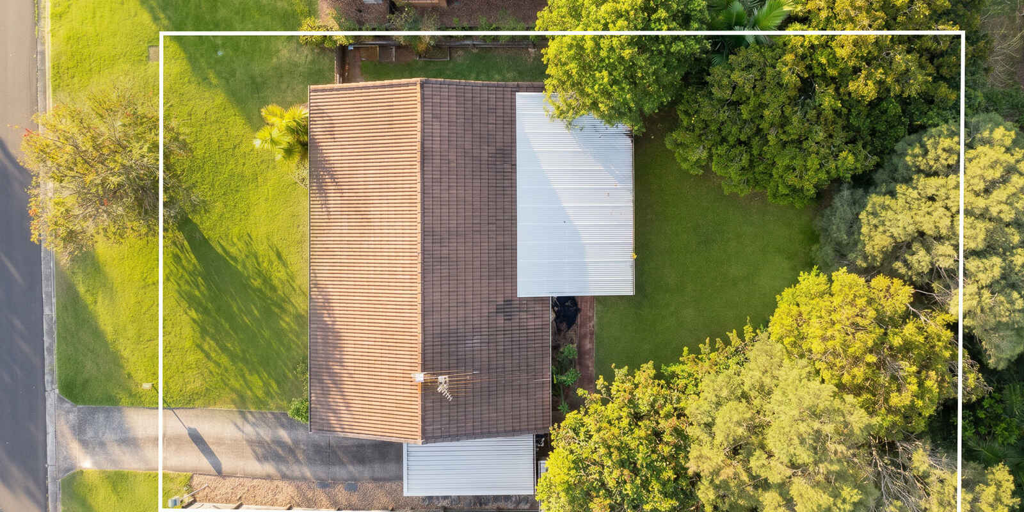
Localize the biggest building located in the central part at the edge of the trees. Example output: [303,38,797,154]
[306,78,554,445]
